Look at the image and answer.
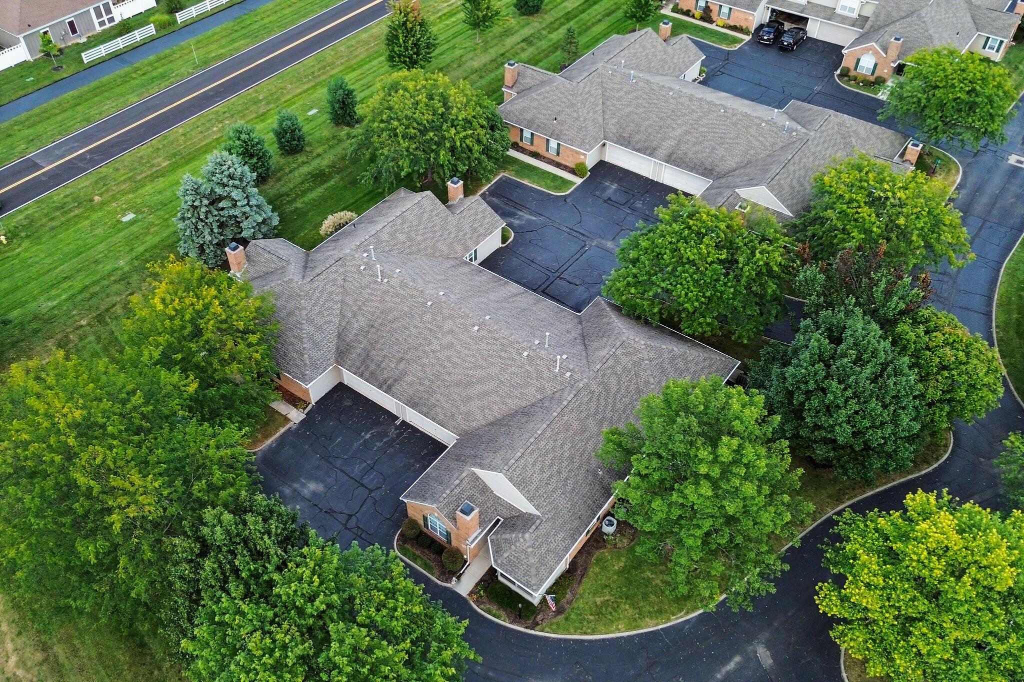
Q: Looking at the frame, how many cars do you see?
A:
2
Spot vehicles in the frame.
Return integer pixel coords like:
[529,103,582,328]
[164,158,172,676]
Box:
[760,21,787,41]
[779,26,808,47]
